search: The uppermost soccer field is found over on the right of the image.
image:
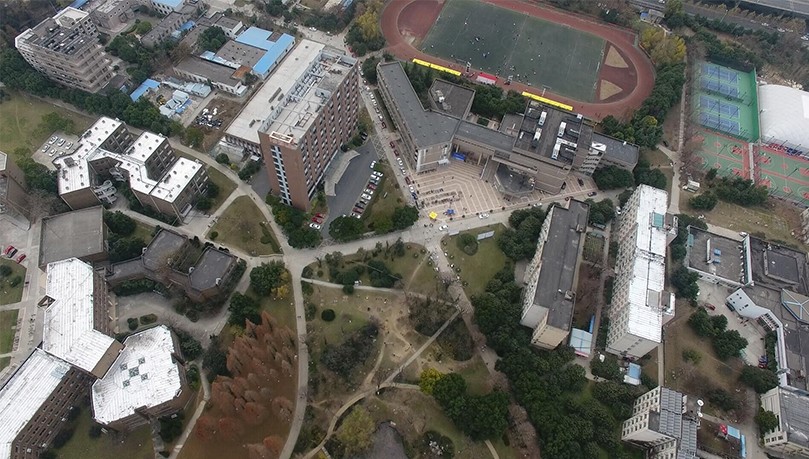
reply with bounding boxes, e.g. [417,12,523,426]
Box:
[415,0,594,100]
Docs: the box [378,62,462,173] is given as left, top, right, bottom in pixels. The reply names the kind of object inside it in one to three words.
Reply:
building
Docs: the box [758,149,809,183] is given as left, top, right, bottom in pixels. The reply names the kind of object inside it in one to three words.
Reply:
basketball court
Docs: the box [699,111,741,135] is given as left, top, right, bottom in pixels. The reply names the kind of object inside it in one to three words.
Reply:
tennis court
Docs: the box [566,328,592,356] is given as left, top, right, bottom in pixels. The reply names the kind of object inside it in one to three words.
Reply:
shed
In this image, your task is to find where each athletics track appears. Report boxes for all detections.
[383,0,653,115]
